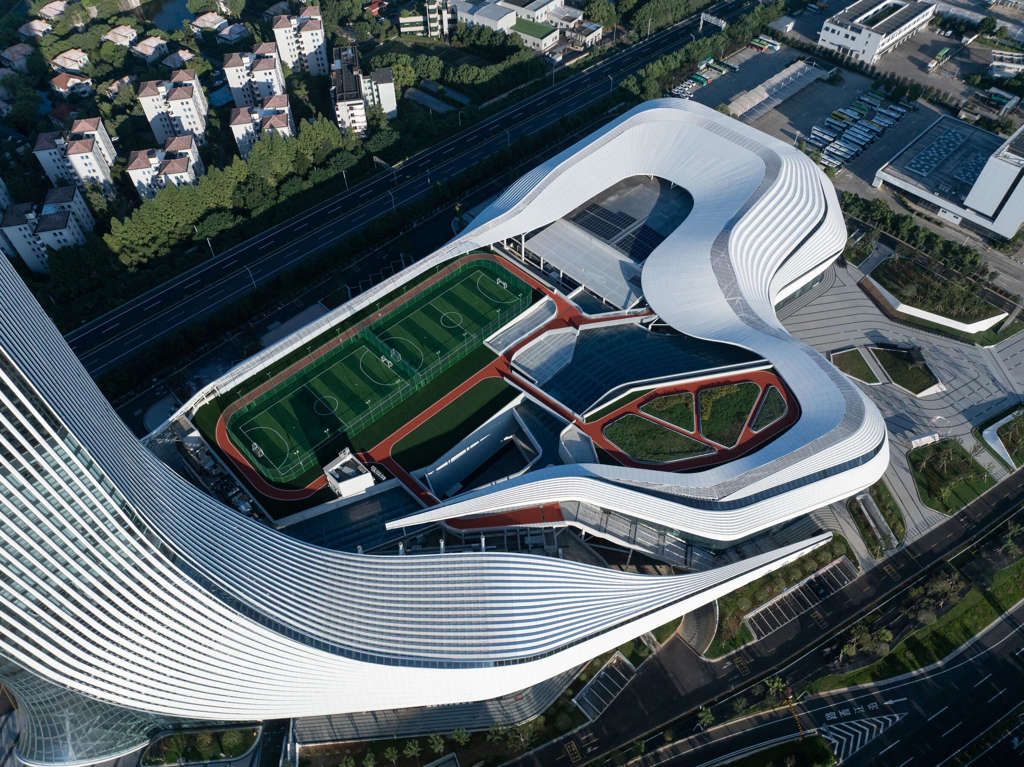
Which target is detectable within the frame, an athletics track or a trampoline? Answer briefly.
athletics track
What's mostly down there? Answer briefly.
buildings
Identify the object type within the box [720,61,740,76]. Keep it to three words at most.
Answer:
vehicle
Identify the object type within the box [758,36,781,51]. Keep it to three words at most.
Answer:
vehicle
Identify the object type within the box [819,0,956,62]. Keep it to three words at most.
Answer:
building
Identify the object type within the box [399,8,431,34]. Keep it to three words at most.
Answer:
building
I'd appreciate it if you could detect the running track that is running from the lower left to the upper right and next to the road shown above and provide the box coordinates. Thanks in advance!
[216,254,553,499]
